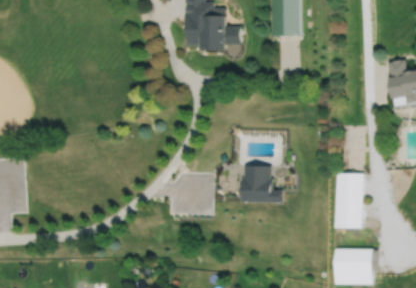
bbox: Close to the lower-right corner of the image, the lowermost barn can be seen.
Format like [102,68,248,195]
[333,245,376,284]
